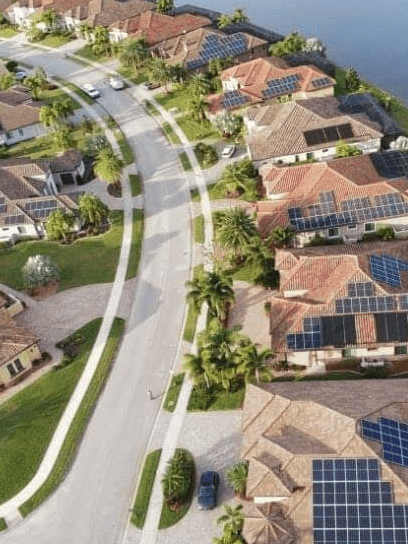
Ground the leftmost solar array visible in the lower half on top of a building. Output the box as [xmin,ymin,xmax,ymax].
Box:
[289,316,321,350]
